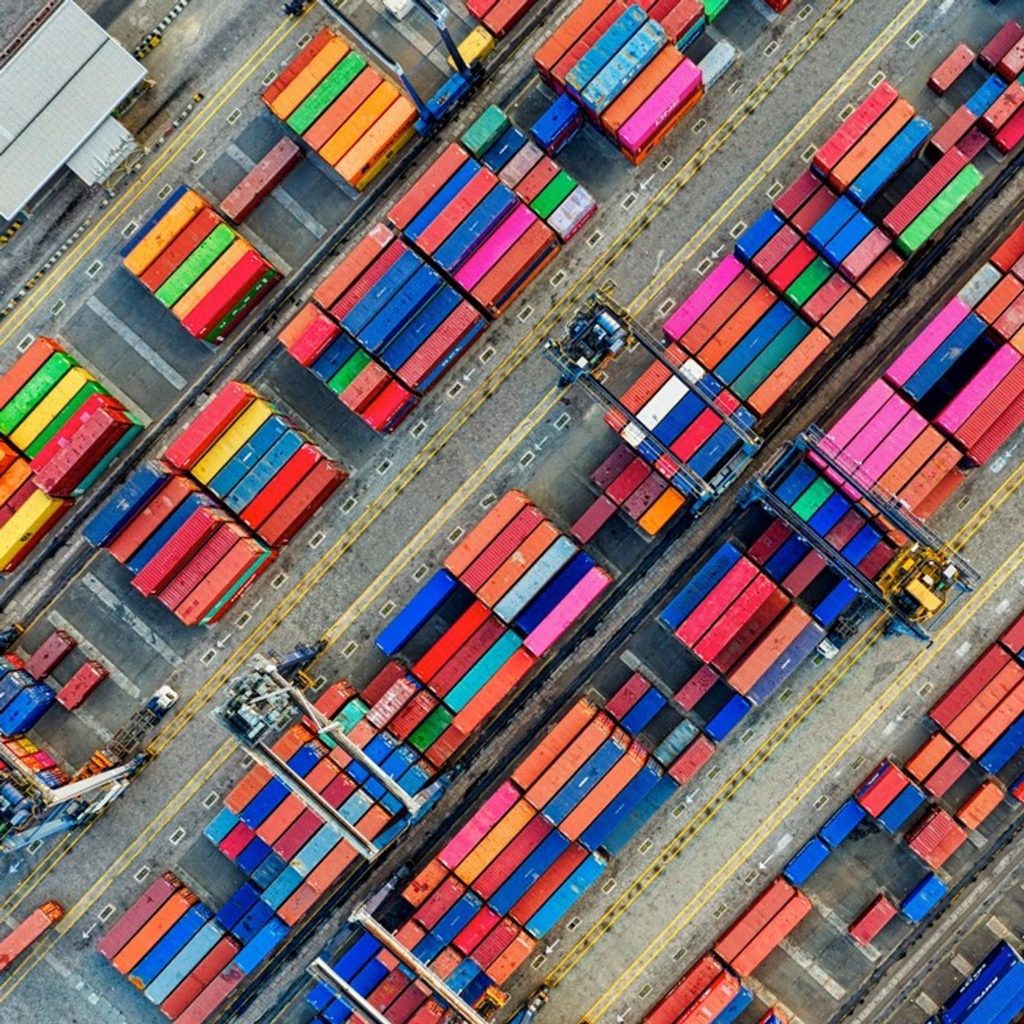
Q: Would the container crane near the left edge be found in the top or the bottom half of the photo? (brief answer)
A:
bottom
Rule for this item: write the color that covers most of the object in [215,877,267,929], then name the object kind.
blue shipping container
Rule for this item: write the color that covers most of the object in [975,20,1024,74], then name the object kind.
red shipping container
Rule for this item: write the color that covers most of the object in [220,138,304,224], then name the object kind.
red shipping container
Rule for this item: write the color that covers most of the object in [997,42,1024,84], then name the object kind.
pink shipping container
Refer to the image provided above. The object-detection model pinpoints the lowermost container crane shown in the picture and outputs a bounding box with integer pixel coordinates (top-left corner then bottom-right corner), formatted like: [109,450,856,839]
[304,853,557,1024]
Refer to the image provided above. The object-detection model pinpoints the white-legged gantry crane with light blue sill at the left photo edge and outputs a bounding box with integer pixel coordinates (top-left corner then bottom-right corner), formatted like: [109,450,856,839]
[0,726,153,871]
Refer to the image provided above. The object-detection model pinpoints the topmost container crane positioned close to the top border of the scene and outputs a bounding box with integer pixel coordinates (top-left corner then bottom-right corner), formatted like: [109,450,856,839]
[285,0,487,142]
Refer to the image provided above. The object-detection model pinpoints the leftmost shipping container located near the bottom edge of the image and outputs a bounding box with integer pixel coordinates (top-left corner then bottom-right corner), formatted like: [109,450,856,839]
[0,904,60,981]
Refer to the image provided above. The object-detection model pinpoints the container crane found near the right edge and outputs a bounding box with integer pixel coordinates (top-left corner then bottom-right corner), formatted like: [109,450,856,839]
[741,424,983,647]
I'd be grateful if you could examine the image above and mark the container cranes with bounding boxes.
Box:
[741,424,983,647]
[551,293,770,511]
[304,853,557,1024]
[285,0,487,142]
[0,726,153,871]
[208,633,469,864]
